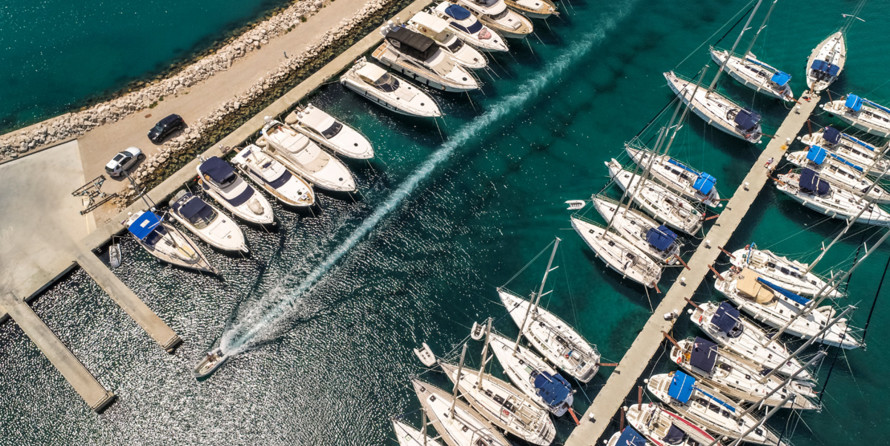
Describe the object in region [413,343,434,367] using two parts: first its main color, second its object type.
white boat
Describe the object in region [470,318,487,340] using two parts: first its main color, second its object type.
white boat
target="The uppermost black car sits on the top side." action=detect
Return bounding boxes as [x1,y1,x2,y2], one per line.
[148,114,189,143]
